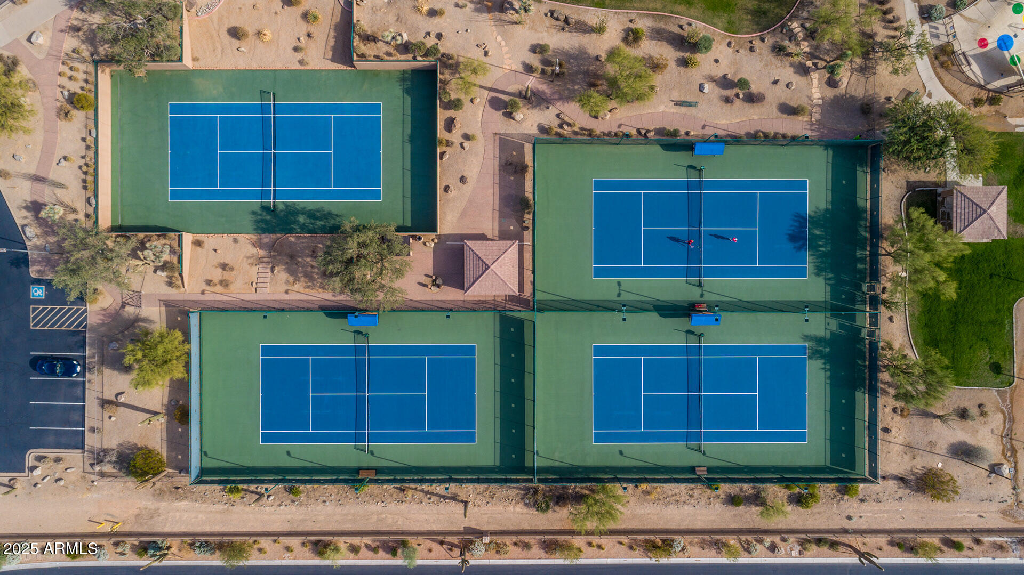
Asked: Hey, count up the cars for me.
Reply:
1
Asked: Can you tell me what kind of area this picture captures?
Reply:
sports ground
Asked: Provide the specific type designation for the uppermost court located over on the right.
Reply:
tennis court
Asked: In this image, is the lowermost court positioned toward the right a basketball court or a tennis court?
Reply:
tennis court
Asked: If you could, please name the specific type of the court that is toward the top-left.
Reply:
tennis court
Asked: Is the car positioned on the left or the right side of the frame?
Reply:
left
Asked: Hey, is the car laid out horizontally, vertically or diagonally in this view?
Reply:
horizontally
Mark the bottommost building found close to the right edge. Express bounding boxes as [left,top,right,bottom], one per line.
[944,185,1008,240]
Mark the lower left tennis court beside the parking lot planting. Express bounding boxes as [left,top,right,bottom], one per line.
[200,313,534,478]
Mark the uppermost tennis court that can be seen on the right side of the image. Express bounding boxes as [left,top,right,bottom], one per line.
[535,143,865,311]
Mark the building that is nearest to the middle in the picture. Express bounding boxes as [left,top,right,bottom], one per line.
[446,240,530,295]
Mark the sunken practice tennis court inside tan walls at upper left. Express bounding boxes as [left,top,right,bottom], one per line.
[111,70,437,234]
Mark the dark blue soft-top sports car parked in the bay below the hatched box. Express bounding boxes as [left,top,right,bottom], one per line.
[37,358,81,378]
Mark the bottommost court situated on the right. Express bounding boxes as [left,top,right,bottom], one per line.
[534,313,865,478]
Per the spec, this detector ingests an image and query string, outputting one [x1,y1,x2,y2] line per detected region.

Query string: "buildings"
[944,185,1008,240]
[446,240,530,295]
